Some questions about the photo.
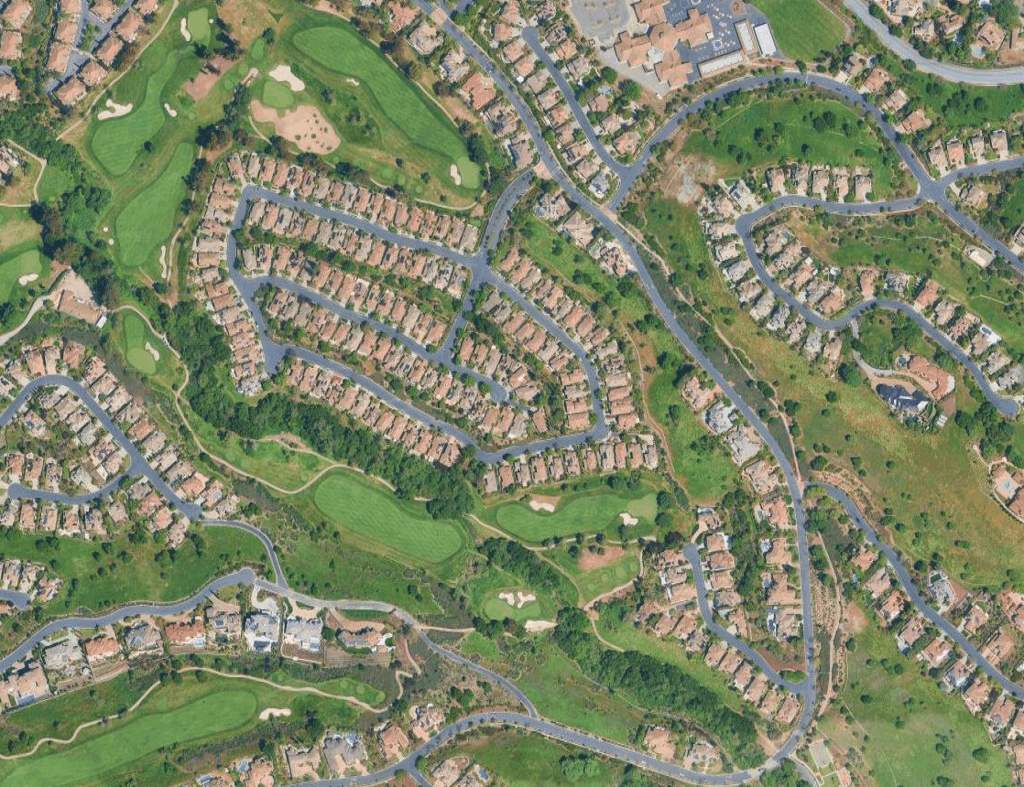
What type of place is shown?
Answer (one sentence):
This looks like a residential area.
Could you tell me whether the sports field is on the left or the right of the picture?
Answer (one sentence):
It is on the right.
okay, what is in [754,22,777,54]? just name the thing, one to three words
building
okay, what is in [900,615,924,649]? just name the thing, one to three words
house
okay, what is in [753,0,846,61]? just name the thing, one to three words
sports field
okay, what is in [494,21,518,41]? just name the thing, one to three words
house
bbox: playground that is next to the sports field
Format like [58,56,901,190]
[660,0,789,87]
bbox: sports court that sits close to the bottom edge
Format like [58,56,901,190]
[807,740,833,768]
